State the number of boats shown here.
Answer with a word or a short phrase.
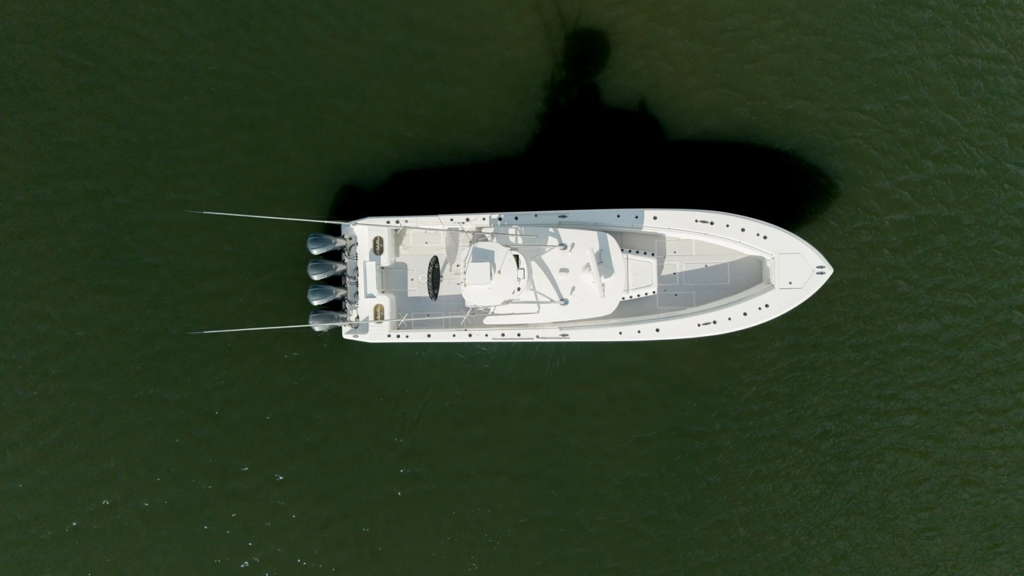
one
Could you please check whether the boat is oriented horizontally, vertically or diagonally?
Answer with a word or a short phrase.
horizontally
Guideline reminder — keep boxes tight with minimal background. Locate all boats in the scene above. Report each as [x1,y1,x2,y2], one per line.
[189,208,834,343]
